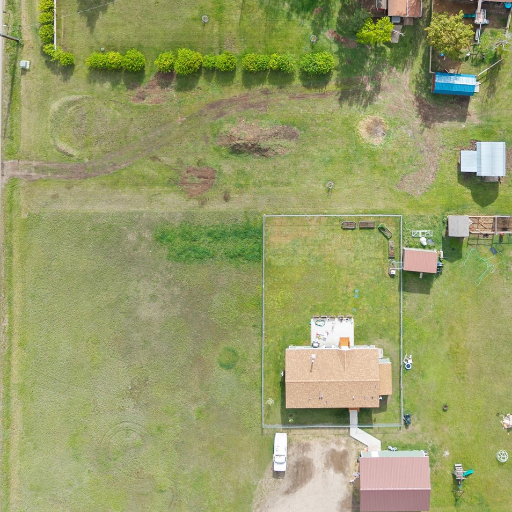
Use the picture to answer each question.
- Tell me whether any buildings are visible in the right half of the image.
Yes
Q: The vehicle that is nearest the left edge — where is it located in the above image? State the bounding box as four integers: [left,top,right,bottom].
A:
[272,430,288,471]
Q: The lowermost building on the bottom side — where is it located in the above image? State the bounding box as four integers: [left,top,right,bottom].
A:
[359,449,431,512]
